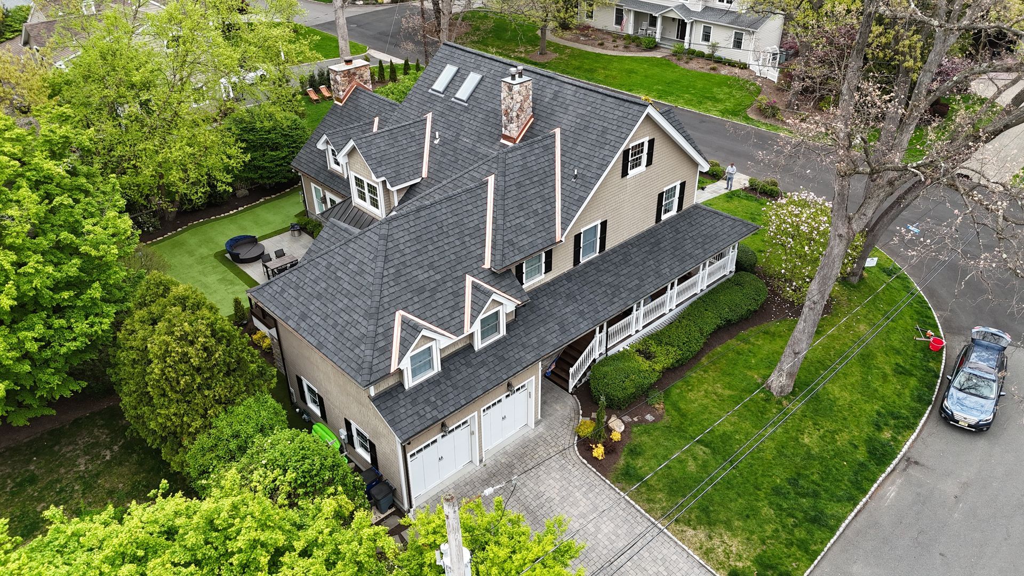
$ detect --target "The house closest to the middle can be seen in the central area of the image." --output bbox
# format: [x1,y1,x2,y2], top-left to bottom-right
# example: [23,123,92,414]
[240,42,759,510]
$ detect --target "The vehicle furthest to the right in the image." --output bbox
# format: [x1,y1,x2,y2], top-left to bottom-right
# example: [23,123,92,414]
[939,313,1014,433]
